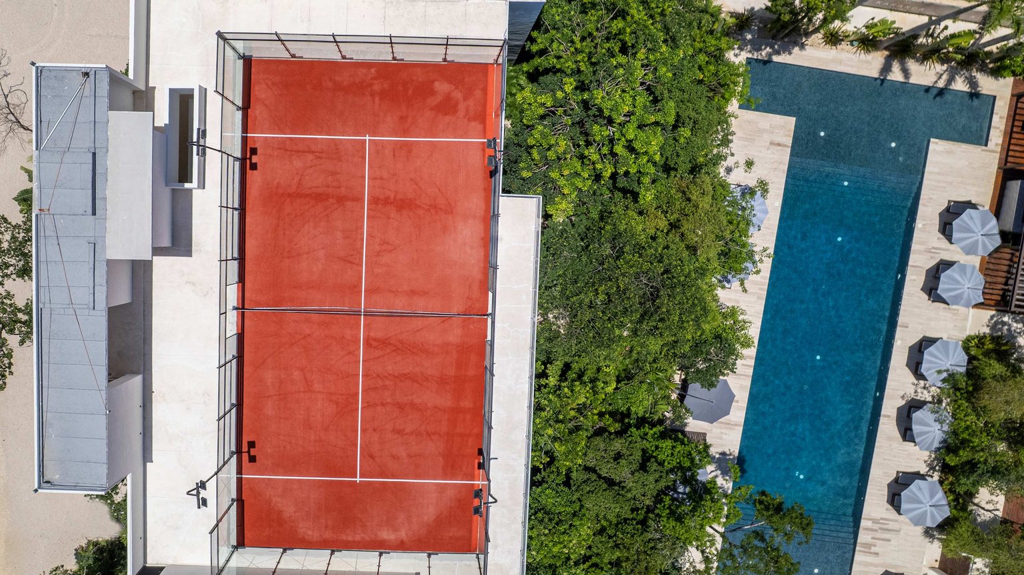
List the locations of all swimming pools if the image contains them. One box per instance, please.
[715,56,998,575]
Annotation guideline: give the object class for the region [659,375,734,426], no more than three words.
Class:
umbrella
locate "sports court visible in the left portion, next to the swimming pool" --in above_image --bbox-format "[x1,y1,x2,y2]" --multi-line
[236,57,495,555]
